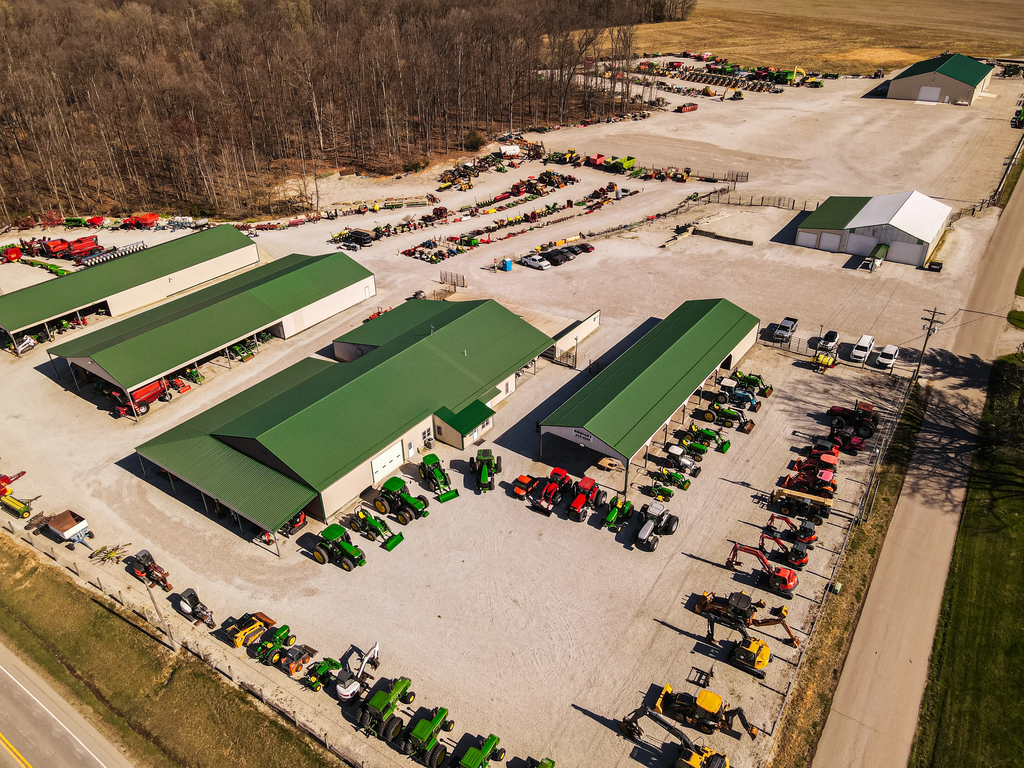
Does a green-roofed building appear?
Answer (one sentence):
Yes, looking at the shot, I can spot a green-roofed building.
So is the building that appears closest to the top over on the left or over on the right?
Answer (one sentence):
You can find the building that appears closest to the top on the right side of the picture.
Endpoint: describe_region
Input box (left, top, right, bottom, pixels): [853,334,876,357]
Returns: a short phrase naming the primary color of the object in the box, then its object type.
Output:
white car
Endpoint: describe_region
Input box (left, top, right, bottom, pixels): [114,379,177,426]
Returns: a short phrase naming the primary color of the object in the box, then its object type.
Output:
red work vehicle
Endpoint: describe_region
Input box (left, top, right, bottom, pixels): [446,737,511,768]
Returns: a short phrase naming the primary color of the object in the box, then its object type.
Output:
green work vehicle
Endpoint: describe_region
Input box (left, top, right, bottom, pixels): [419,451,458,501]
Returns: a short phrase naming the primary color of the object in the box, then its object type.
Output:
green work vehicle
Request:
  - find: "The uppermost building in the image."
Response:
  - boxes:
[887,53,993,105]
